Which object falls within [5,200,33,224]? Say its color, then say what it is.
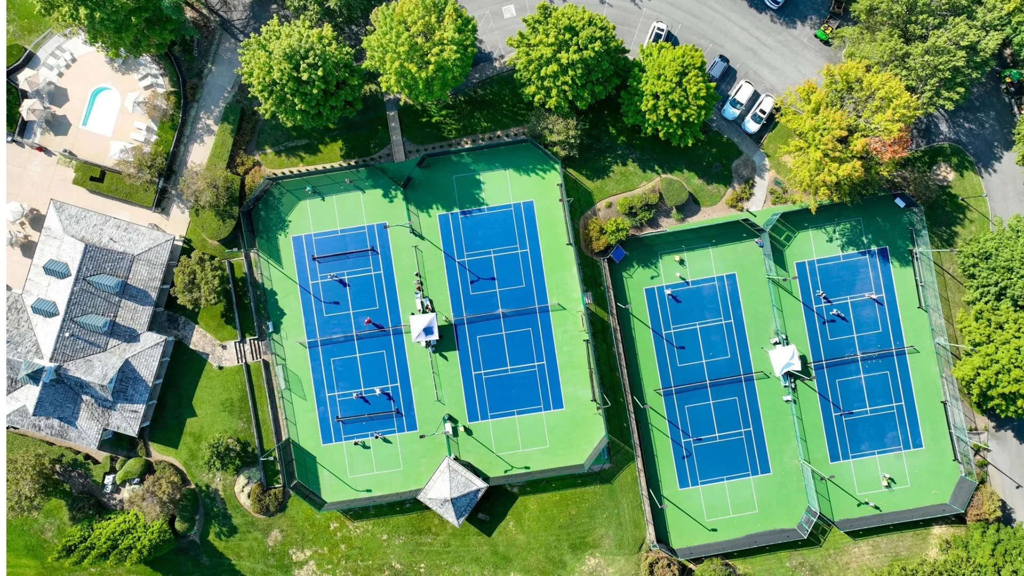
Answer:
white umbrella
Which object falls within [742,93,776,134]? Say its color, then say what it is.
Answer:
white car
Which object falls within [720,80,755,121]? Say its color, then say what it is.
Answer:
white car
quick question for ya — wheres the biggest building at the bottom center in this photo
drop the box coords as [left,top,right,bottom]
[417,451,489,528]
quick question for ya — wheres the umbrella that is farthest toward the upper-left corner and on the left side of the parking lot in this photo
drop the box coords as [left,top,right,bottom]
[19,69,43,93]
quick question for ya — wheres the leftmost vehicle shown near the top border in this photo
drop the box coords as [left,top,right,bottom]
[636,17,667,61]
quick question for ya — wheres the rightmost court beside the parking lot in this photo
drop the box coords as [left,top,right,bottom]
[763,192,961,522]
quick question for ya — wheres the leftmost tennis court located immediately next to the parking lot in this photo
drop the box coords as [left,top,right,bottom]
[252,162,449,501]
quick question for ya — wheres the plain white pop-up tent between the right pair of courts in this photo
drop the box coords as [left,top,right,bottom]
[762,343,801,376]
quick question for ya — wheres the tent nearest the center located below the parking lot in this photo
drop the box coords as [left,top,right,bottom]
[410,312,440,342]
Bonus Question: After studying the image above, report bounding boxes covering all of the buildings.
[0,198,190,451]
[417,451,489,528]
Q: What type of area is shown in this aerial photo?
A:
sports ground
